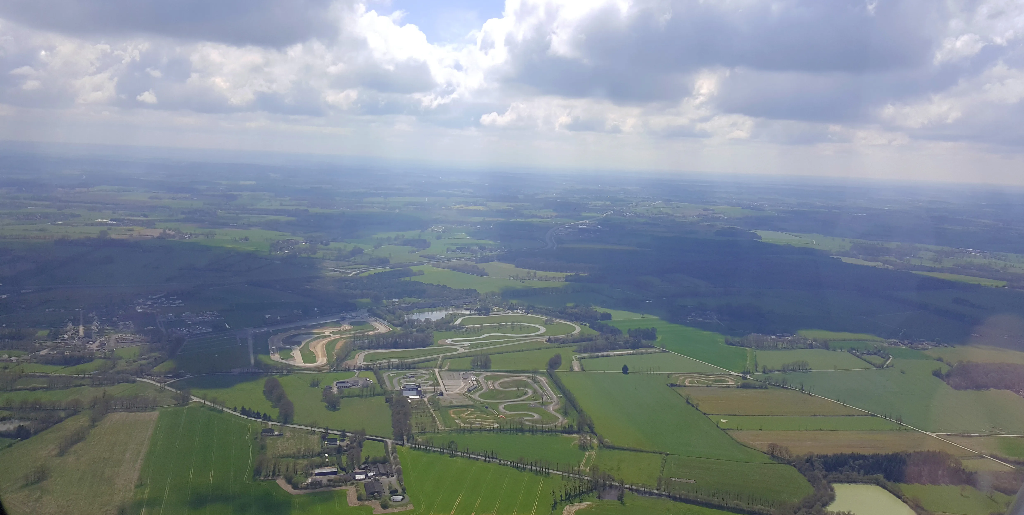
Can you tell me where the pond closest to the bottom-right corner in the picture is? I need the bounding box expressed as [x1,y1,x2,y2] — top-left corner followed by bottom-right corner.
[816,483,917,515]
